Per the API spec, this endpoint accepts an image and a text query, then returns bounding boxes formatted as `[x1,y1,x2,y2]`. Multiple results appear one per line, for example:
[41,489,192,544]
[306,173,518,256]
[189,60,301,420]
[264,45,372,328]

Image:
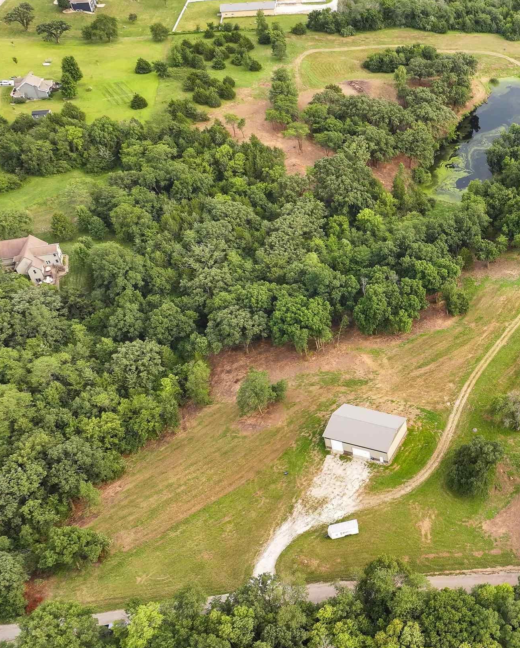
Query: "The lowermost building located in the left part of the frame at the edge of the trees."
[0,230,71,286]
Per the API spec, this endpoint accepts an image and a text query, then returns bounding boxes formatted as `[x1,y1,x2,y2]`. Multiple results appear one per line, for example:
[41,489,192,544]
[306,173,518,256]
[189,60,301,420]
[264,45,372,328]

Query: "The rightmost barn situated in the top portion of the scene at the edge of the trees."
[219,0,277,17]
